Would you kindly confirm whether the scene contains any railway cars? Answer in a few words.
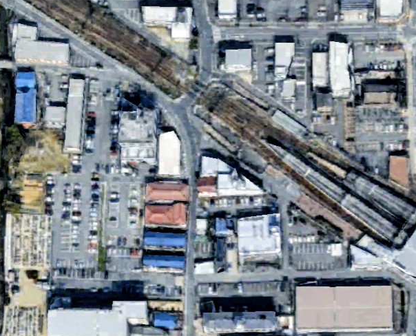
No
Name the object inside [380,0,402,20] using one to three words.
building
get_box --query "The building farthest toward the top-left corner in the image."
[13,24,69,64]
